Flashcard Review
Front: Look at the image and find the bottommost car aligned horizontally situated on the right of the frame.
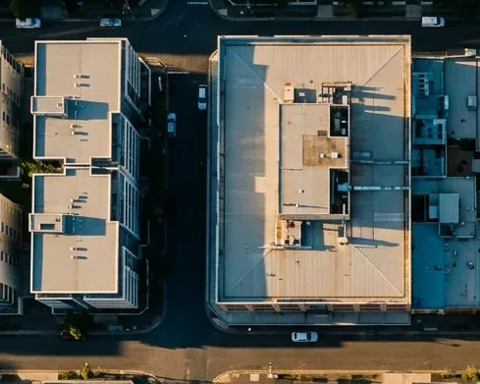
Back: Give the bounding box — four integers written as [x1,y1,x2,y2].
[292,331,319,343]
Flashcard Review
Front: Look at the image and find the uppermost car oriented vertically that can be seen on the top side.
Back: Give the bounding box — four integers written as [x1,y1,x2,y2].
[195,83,208,111]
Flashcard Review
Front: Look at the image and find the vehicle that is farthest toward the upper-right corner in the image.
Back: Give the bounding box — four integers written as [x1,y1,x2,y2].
[418,14,448,29]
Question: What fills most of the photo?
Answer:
buildings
